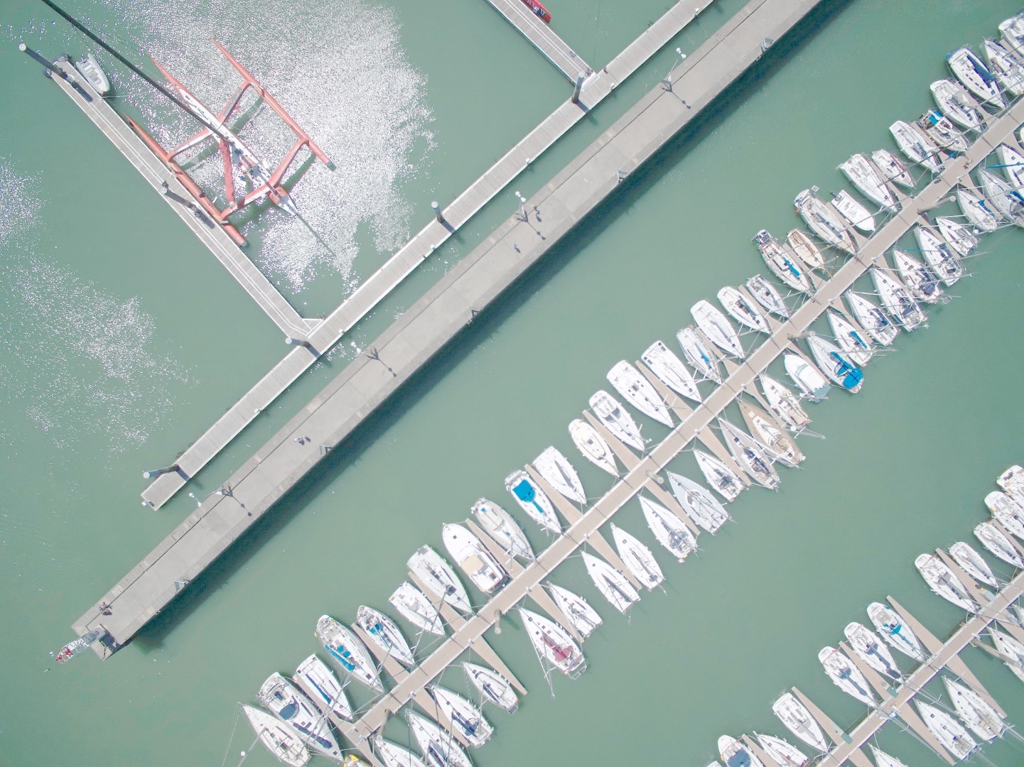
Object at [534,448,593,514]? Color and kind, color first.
white boat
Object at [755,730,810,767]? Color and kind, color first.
white boat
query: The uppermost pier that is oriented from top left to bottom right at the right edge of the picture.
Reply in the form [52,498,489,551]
[953,82,1001,130]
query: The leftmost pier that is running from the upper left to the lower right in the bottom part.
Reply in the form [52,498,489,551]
[293,674,350,734]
